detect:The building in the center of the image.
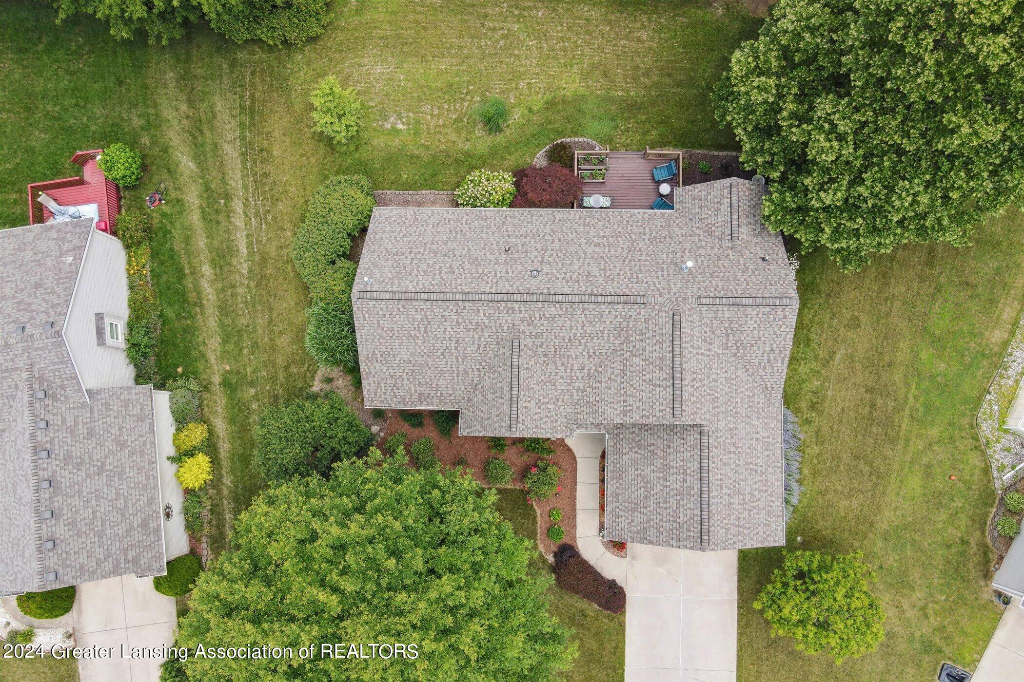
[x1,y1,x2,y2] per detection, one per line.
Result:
[352,177,798,551]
